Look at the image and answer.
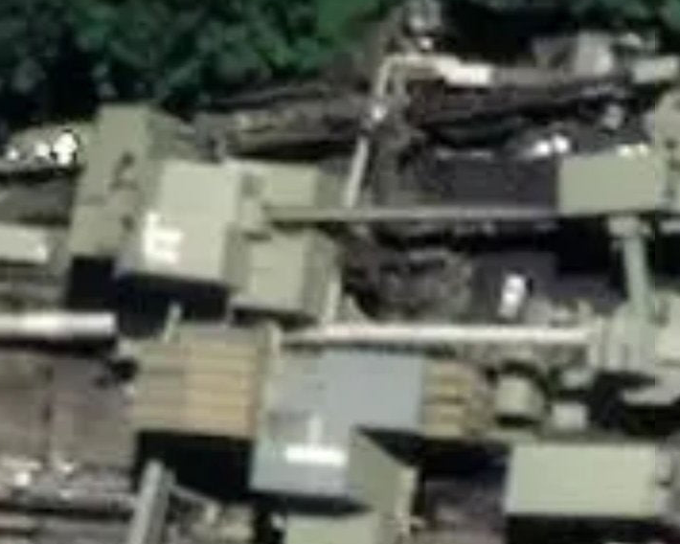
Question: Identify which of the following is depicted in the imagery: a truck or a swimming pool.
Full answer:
This aerial view contains a truck.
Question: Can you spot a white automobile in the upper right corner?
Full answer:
Yes, a white automobile shows up in the upper right corner.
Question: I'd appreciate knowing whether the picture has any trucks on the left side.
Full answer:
Yes, a truck appears on the left side.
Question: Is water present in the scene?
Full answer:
No, the picture contains no water.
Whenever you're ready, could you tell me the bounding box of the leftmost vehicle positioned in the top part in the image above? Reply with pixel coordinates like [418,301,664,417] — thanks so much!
[5,140,23,172]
